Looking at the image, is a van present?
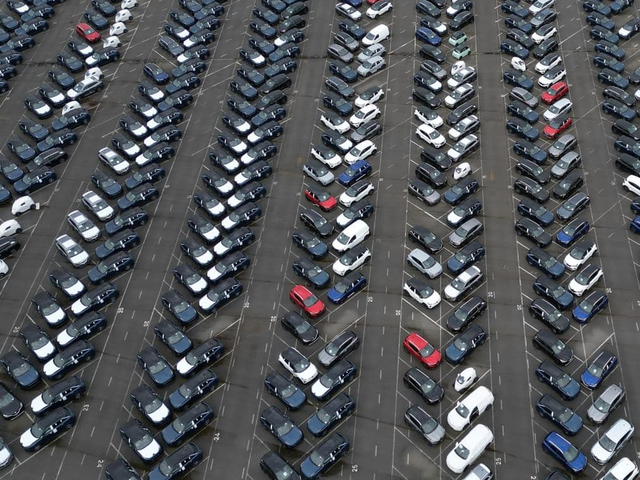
Yes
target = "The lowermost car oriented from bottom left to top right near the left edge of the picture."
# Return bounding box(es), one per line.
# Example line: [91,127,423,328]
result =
[20,405,79,453]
